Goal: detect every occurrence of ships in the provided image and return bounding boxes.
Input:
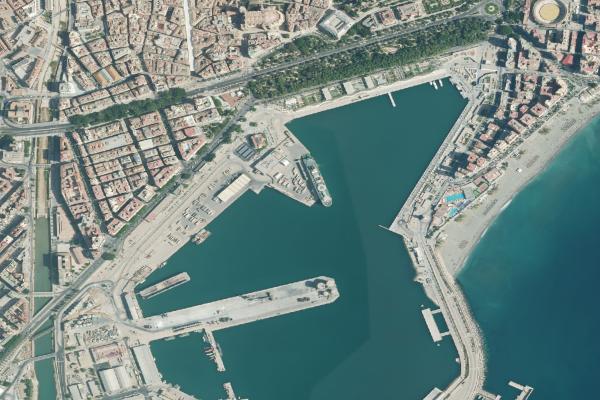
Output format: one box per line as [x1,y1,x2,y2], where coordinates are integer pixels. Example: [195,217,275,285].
[304,153,333,208]
[193,231,210,244]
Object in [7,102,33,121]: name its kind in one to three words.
house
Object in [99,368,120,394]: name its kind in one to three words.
building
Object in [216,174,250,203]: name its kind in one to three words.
building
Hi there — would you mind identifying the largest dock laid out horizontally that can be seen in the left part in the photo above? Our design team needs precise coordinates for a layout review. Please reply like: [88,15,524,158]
[140,275,339,344]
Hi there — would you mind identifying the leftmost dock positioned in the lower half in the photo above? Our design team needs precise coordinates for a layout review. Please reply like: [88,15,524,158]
[135,271,190,300]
